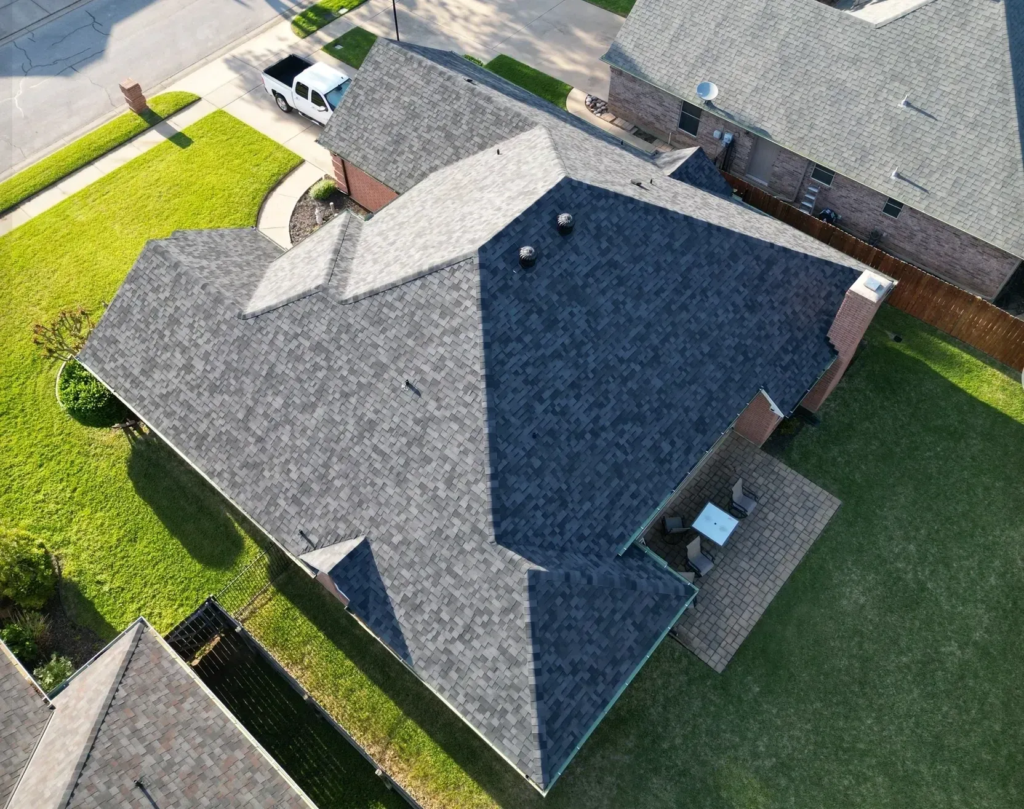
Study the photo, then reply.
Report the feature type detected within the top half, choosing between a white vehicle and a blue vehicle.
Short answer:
white vehicle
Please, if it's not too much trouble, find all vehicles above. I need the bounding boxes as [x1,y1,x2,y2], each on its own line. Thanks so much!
[260,54,350,132]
